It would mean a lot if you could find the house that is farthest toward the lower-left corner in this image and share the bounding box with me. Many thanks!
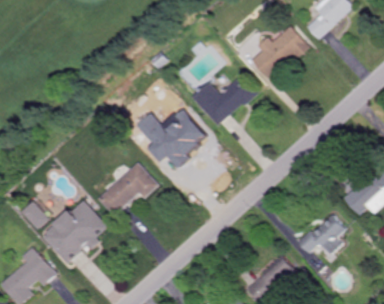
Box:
[1,248,58,304]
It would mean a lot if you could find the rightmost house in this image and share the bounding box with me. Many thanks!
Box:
[344,172,384,218]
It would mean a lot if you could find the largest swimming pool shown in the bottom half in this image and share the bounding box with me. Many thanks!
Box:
[38,170,84,219]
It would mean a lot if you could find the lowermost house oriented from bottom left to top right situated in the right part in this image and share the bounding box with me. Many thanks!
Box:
[248,255,299,301]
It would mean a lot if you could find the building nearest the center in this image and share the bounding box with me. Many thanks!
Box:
[138,107,210,172]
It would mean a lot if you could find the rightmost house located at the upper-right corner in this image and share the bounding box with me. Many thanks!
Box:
[308,0,354,40]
